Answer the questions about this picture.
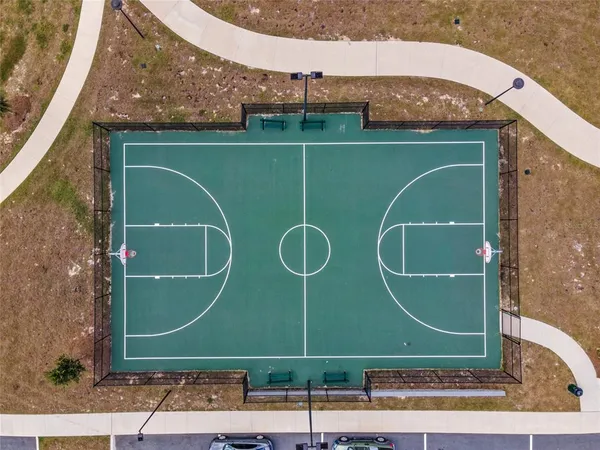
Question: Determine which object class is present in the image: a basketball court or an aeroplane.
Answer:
basketball court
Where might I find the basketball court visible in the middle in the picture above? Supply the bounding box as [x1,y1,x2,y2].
[109,112,502,389]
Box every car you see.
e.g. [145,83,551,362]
[210,435,275,450]
[330,436,397,450]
